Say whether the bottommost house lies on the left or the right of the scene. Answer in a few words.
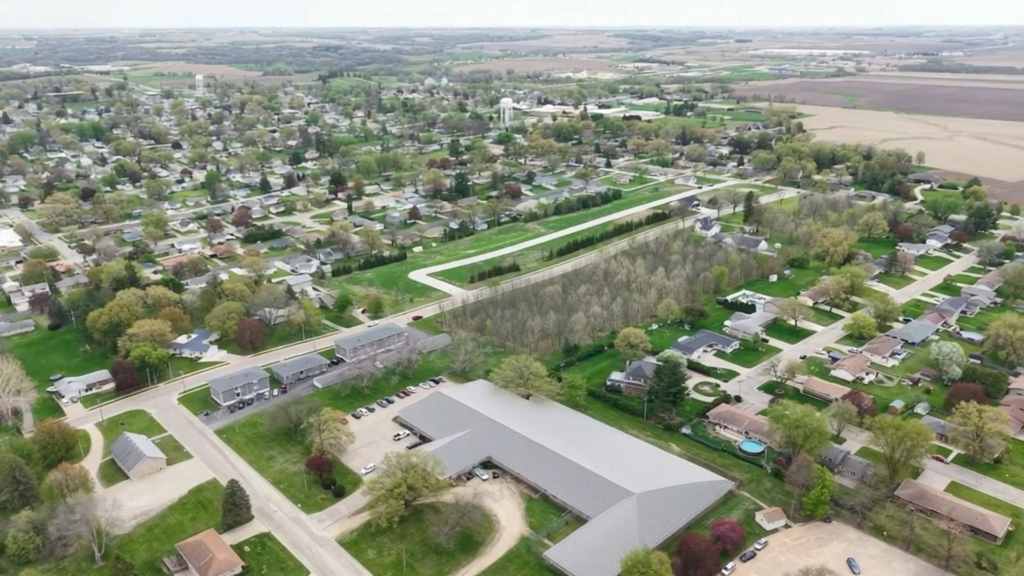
left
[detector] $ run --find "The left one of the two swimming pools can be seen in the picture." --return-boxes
[736,438,765,457]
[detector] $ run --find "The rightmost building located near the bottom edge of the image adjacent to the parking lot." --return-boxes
[397,379,733,576]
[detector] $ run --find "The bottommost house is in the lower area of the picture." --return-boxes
[185,524,243,576]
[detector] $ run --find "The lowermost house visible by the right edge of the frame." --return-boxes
[894,481,1007,547]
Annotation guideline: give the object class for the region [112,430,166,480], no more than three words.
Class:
building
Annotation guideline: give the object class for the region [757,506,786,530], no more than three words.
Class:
shed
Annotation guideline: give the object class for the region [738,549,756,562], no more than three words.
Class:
vehicle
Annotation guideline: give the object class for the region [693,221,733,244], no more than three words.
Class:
house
